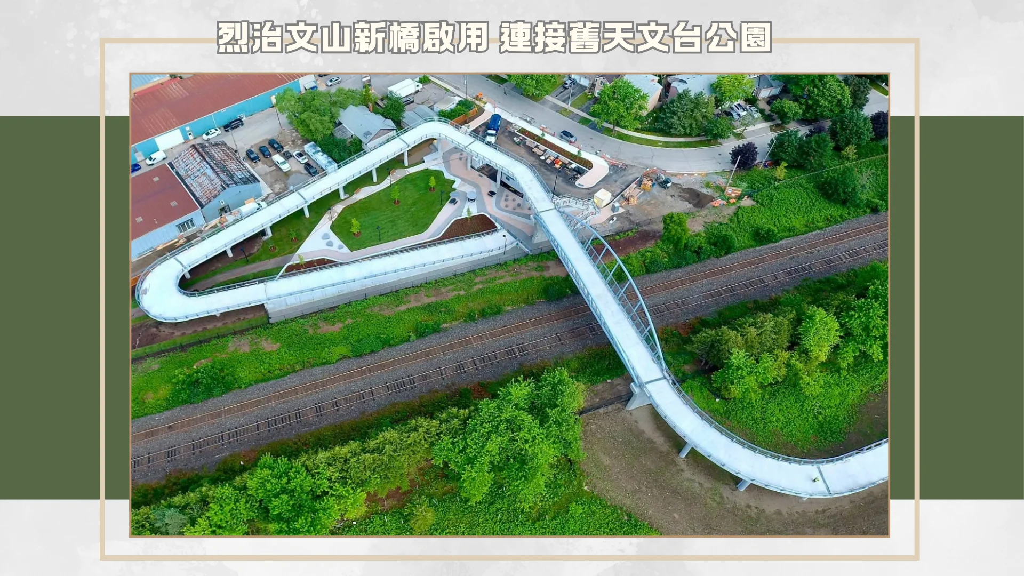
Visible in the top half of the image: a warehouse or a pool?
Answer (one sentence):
Looking in the top half of the image, you will find a warehouse.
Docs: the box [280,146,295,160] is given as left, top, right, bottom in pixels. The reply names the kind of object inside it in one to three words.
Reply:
car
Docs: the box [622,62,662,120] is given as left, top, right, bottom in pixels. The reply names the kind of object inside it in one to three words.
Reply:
house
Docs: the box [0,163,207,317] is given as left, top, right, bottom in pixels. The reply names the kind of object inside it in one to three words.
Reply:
warehouse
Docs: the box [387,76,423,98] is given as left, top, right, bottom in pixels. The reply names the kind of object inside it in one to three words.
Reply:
truck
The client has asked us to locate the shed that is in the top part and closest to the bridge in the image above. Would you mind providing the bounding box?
[595,186,617,209]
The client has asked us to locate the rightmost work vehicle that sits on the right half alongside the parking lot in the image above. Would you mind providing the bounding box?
[653,164,673,186]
